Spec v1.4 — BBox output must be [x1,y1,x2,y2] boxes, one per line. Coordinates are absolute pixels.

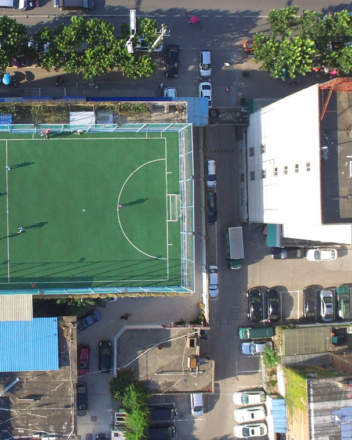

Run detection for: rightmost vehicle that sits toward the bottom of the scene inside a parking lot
[335,285,352,320]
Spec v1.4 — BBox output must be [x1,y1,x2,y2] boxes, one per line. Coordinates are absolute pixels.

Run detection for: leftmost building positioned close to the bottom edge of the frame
[0,312,77,440]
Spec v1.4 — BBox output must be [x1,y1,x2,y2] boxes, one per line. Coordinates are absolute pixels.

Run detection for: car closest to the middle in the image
[204,191,219,225]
